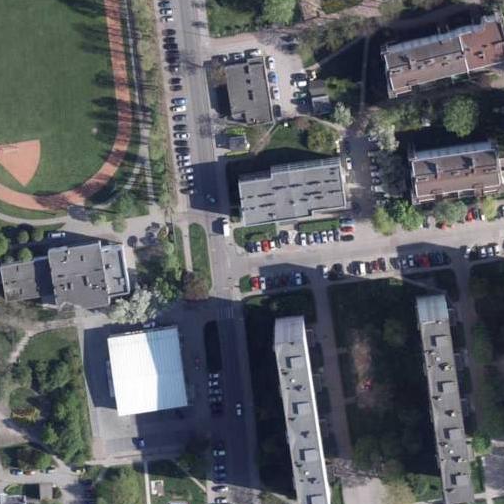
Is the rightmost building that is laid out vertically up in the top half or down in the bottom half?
bottom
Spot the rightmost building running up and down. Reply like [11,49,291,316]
[420,297,474,504]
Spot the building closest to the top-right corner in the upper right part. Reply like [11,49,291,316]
[383,12,504,96]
